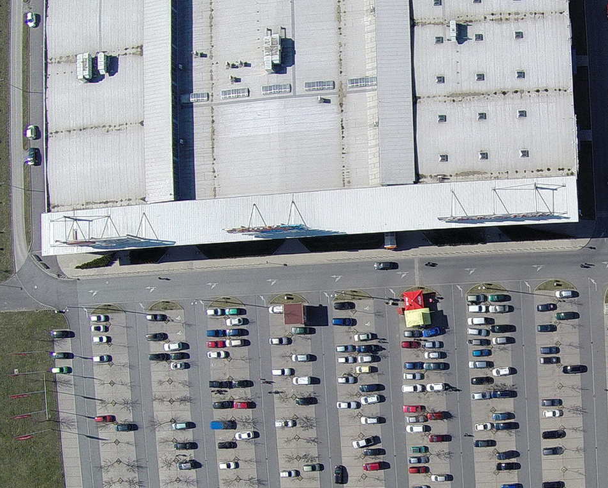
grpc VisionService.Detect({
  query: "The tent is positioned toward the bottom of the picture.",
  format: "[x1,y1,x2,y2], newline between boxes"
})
[404,290,424,310]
